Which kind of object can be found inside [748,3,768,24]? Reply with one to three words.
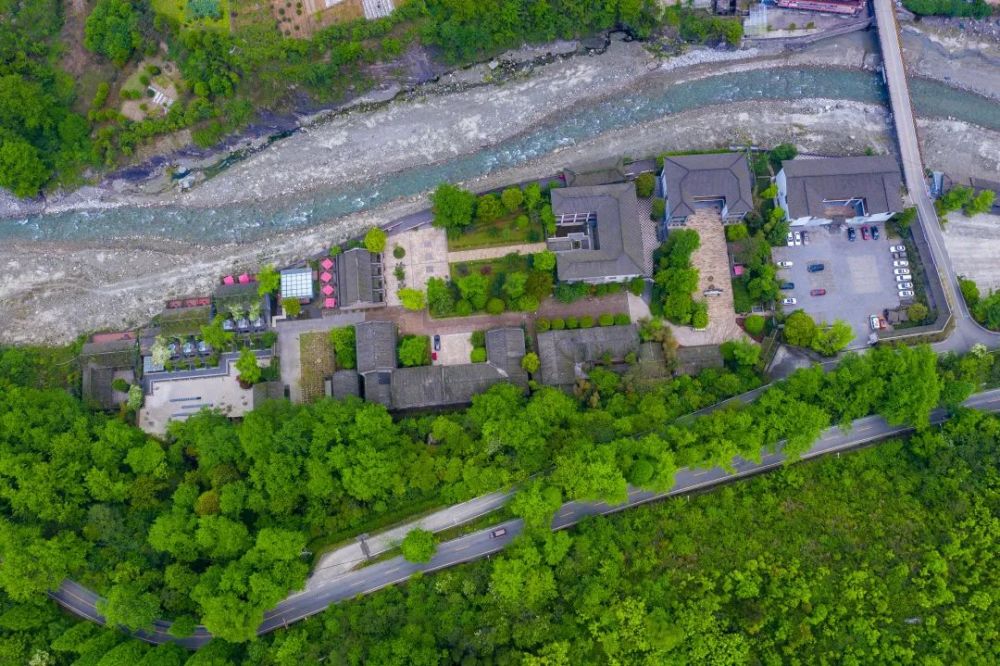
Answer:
greenhouse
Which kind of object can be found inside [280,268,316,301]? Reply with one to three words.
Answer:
building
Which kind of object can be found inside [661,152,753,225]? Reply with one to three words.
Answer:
house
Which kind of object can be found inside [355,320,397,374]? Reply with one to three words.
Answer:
house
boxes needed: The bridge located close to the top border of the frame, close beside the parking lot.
[870,0,932,193]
